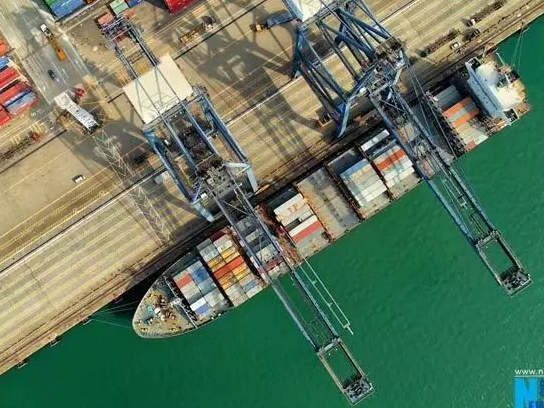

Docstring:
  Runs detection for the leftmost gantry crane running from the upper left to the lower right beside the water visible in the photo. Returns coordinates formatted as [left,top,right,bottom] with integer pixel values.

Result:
[99,12,377,407]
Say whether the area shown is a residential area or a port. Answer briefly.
port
